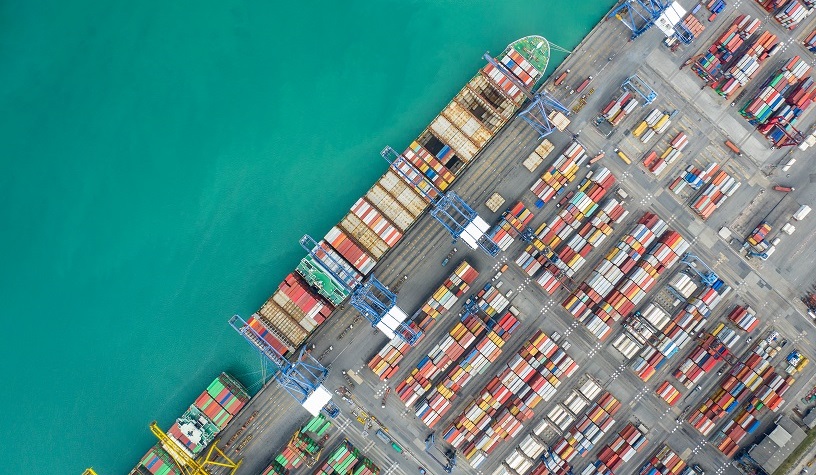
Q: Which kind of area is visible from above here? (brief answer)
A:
port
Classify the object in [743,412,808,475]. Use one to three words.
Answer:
building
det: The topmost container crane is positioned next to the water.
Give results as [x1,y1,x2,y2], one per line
[603,0,700,43]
